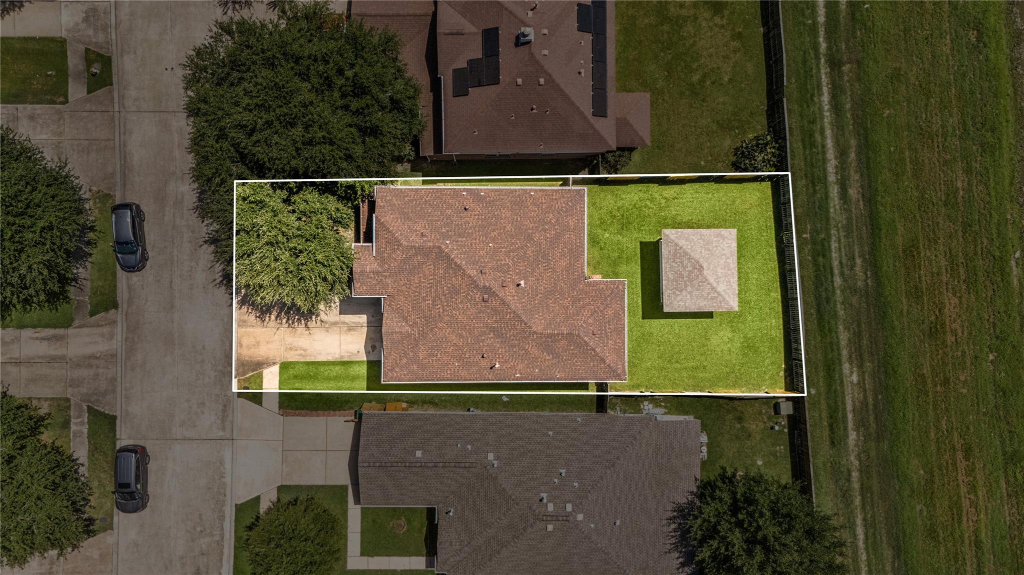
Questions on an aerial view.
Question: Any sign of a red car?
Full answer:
No, there's no red car here.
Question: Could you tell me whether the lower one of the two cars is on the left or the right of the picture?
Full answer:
It is on the left.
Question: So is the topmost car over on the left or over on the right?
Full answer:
It is on the left.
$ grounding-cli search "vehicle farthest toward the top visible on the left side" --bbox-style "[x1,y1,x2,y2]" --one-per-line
[110,201,152,271]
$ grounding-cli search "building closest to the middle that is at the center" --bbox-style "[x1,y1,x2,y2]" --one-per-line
[350,187,627,383]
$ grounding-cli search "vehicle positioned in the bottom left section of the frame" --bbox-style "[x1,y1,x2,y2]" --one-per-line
[113,444,153,511]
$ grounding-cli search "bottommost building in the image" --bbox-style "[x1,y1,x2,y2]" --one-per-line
[354,398,700,575]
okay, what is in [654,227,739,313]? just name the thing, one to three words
building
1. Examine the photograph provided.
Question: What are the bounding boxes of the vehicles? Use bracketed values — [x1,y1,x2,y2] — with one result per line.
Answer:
[113,444,153,511]
[110,201,152,271]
